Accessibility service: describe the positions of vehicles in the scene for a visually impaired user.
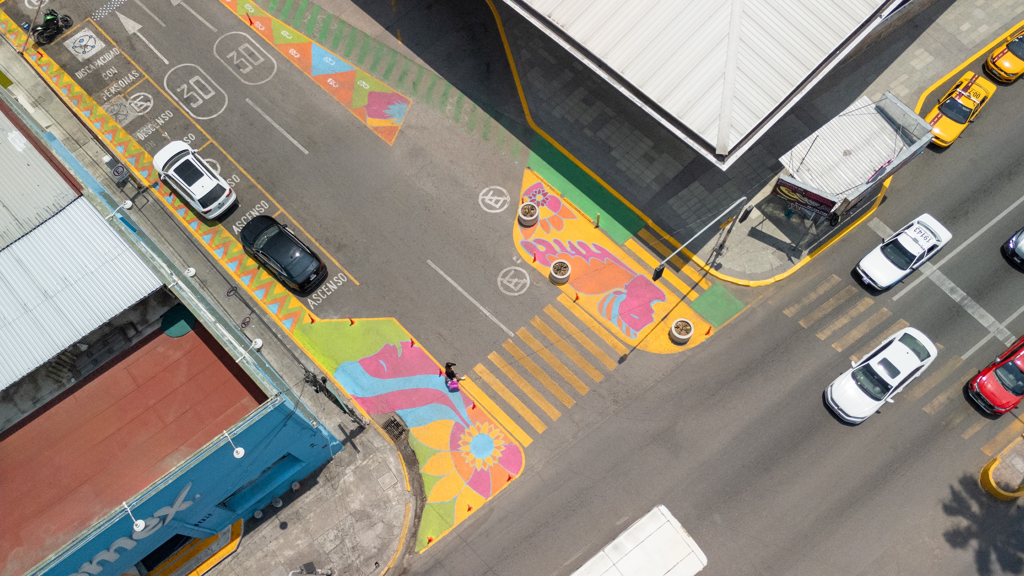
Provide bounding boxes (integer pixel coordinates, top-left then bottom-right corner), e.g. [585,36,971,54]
[826,325,940,427]
[35,7,74,44]
[1002,218,1024,269]
[156,142,243,228]
[983,17,1024,84]
[969,319,1024,412]
[569,506,703,576]
[853,211,954,296]
[242,216,330,298]
[927,69,1001,153]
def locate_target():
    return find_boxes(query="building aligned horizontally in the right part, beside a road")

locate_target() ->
[501,0,903,172]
